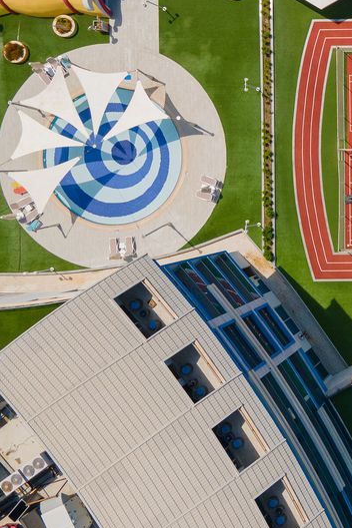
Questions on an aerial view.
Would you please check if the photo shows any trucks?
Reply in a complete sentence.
No, there's no truck here.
